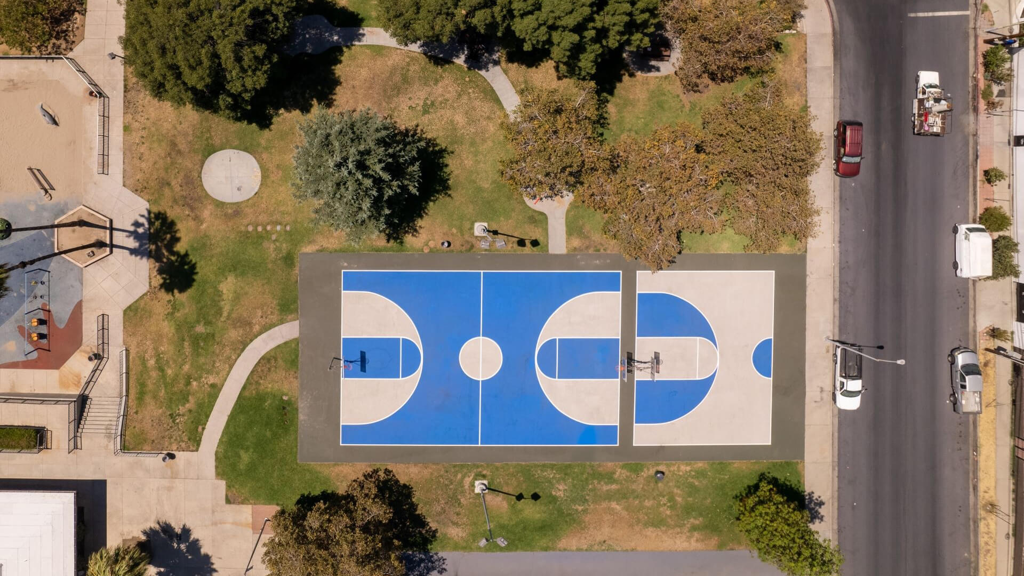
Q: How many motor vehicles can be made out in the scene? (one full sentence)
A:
My tally gives 5 motor vehicles in this view.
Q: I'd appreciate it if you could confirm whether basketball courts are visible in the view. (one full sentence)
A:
Yes, the frame does contain a basketball court.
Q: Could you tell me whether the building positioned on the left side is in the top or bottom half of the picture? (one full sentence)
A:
The building positioned on the left side is in the bottom half of the image.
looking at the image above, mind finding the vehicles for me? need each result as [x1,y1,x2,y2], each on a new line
[908,71,950,136]
[950,348,987,416]
[834,344,866,410]
[953,222,992,278]
[835,121,865,177]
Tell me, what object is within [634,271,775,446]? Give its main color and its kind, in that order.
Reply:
white basketball court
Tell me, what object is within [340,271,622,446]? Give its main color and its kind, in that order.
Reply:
blue basketball court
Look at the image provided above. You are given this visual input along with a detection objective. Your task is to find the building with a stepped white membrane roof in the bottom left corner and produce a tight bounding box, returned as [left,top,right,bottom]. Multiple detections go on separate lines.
[0,481,87,576]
